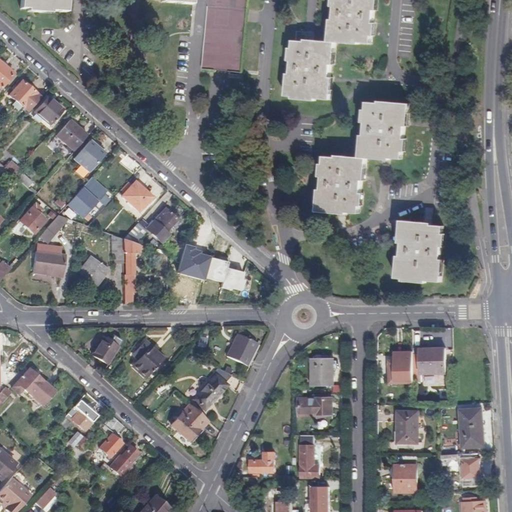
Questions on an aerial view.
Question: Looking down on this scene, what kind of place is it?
residential area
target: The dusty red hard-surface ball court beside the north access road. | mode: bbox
[202,0,246,72]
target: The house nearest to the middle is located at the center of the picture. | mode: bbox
[179,245,246,290]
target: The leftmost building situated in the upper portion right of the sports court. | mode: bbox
[281,39,337,104]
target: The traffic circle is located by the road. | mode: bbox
[276,288,332,344]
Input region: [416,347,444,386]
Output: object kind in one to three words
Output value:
house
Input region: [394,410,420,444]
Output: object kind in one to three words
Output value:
house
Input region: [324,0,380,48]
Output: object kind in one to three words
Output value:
building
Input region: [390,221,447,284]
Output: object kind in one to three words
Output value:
building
